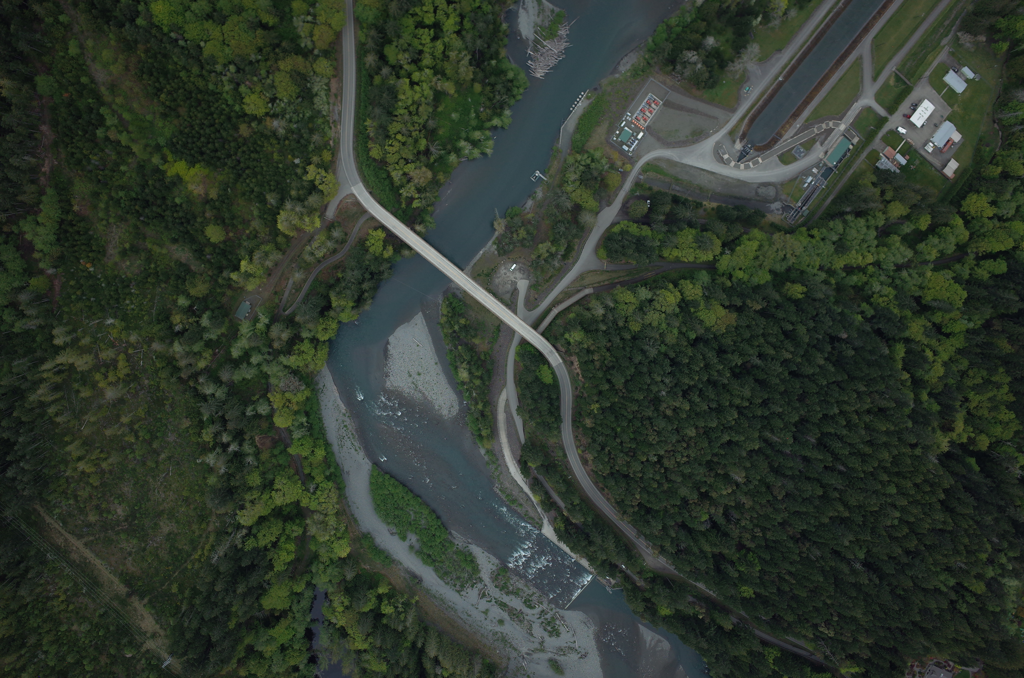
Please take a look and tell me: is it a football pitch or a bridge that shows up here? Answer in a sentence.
The image shows a bridge.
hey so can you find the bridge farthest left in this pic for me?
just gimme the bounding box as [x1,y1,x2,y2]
[349,181,565,368]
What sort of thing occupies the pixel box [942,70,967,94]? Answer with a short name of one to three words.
house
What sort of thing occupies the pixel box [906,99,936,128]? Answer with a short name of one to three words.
building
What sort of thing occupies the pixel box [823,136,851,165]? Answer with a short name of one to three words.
house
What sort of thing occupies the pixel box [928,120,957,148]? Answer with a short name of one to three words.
shed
